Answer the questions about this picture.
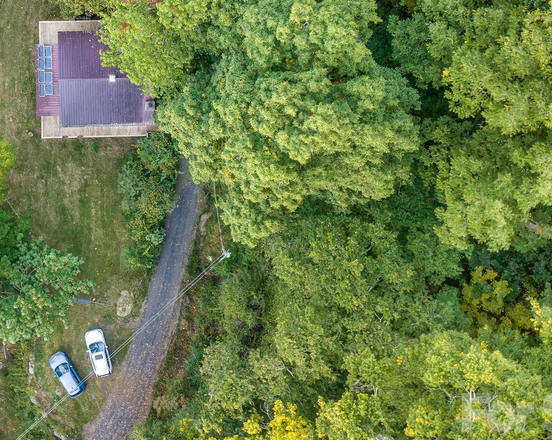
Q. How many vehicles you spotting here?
two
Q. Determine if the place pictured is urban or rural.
rural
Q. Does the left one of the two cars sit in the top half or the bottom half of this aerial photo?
bottom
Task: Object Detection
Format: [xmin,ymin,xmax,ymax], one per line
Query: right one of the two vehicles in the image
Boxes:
[85,325,113,381]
